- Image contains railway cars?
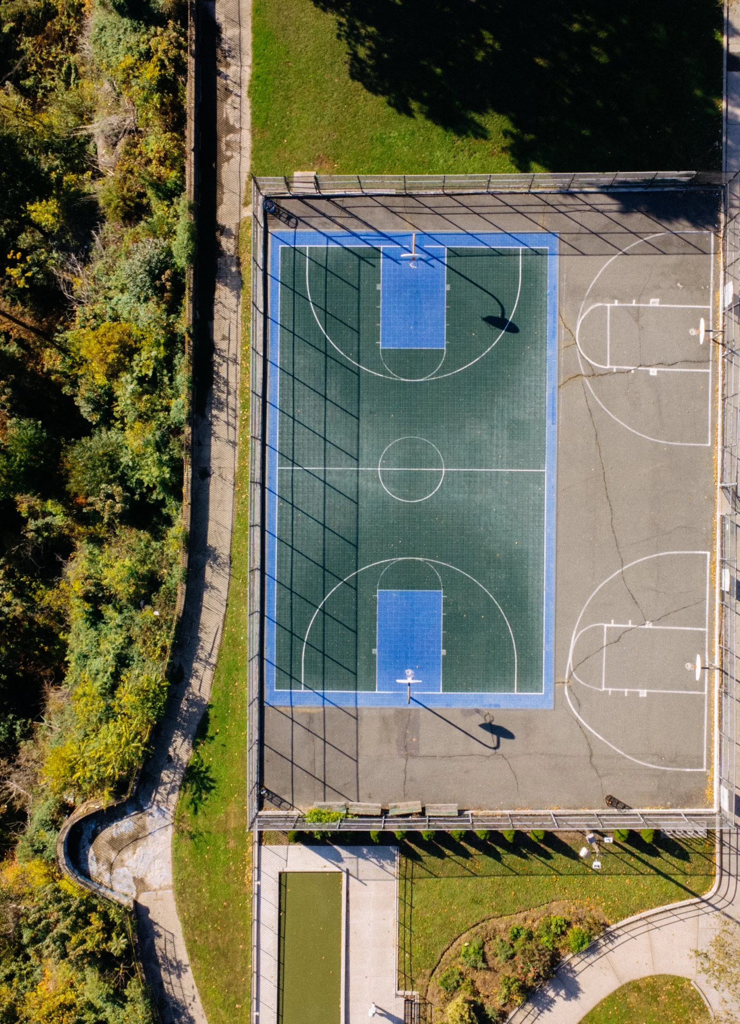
No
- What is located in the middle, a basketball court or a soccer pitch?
basketball court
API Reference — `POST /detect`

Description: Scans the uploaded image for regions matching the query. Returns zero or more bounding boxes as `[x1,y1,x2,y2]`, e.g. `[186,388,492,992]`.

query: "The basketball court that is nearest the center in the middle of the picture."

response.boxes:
[265,231,559,709]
